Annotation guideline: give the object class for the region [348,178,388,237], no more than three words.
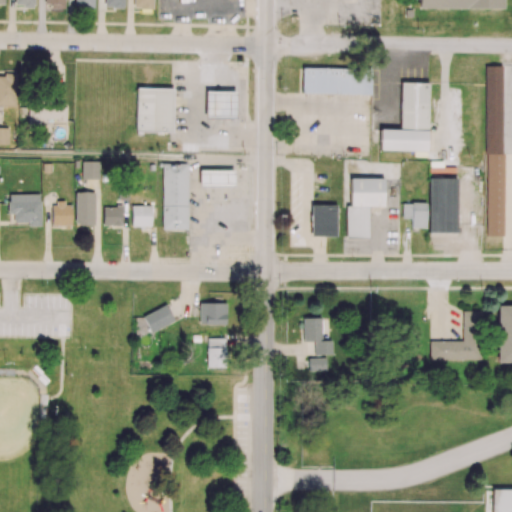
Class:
building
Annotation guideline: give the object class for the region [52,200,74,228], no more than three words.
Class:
house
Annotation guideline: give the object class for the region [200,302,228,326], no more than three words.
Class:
house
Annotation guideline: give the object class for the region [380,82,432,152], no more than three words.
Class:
building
